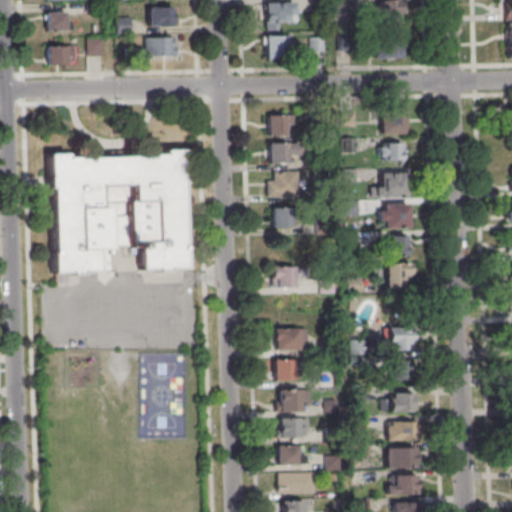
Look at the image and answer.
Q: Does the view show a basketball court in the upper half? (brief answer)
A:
No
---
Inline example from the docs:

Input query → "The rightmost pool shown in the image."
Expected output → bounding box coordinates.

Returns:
[356,299,378,327]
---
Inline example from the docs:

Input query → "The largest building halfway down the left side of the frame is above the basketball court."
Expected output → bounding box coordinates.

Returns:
[54,149,194,275]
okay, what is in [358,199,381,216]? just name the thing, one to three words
building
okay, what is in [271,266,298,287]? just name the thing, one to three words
house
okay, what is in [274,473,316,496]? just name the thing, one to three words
house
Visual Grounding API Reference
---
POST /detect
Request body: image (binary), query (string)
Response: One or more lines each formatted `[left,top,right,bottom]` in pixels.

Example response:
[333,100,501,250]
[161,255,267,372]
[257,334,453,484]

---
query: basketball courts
[139,353,186,438]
